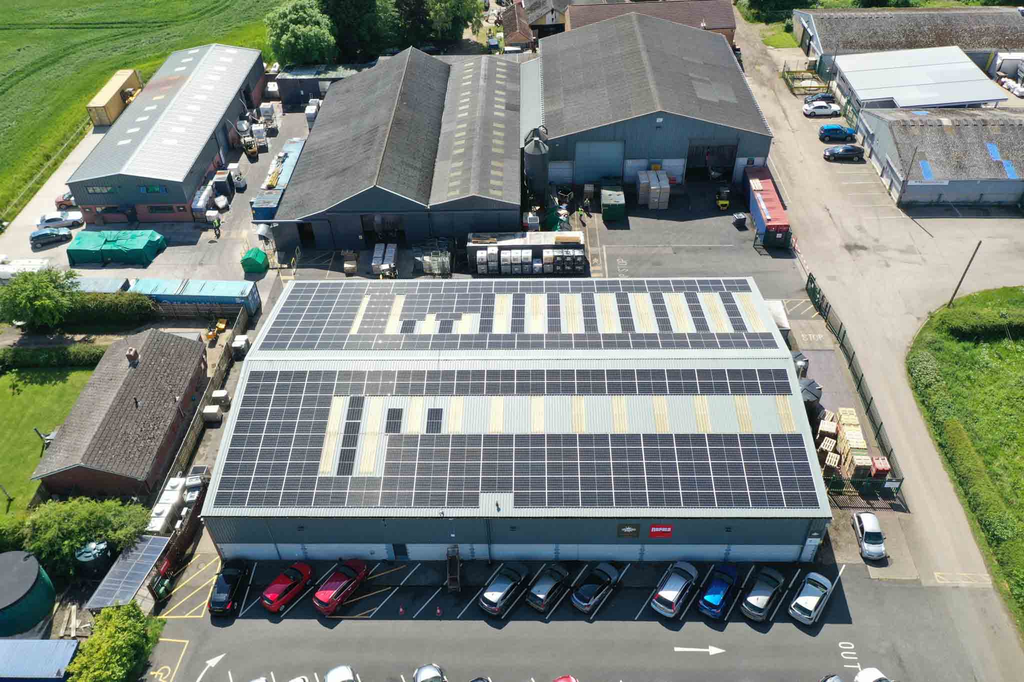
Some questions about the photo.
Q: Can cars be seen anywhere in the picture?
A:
Yes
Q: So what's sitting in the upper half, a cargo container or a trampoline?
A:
cargo container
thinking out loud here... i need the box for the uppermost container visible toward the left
[88,69,146,123]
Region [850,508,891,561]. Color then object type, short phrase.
white car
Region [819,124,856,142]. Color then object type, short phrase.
blue car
